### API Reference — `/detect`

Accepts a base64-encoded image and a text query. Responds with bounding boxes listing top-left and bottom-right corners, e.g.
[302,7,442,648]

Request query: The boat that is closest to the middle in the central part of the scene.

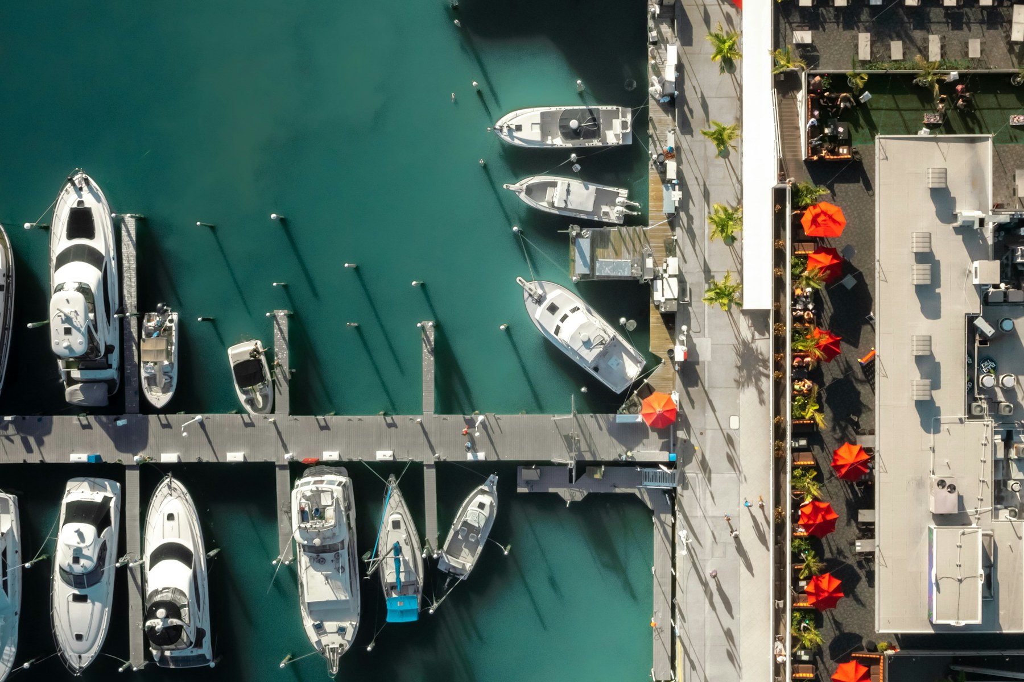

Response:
[519,281,646,393]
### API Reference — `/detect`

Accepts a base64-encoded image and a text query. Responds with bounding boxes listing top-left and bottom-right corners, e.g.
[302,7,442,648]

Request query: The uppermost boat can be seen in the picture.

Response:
[488,105,634,148]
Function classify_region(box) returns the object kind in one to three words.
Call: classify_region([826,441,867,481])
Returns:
umbrella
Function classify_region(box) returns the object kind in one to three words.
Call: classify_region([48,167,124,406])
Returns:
boat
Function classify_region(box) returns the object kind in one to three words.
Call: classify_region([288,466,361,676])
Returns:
boat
